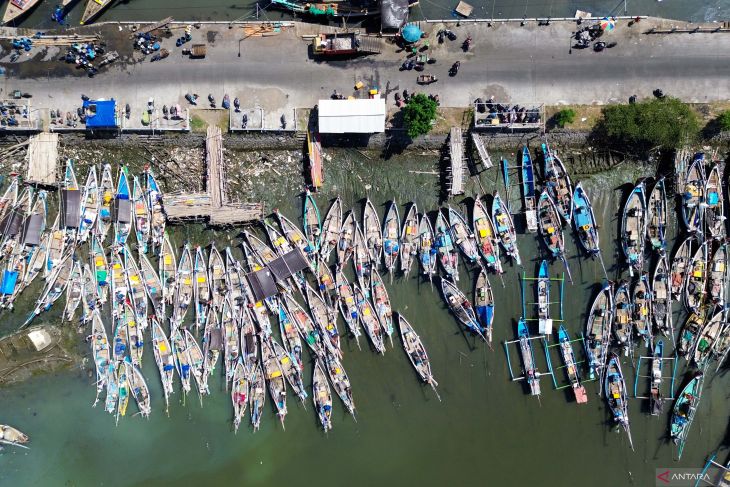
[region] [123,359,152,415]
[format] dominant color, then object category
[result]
white boat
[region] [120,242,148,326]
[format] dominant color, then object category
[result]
white boat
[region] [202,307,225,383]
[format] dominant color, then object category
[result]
gray boat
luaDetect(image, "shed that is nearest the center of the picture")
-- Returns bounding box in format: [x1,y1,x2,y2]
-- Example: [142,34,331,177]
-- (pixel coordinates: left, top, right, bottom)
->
[317,98,386,136]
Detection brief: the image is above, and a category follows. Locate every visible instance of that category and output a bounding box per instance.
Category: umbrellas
[401,24,421,43]
[599,14,615,30]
